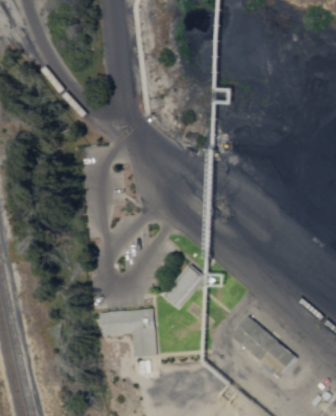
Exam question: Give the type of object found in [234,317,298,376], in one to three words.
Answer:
building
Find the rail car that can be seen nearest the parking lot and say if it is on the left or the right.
left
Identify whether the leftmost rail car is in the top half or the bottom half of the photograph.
top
